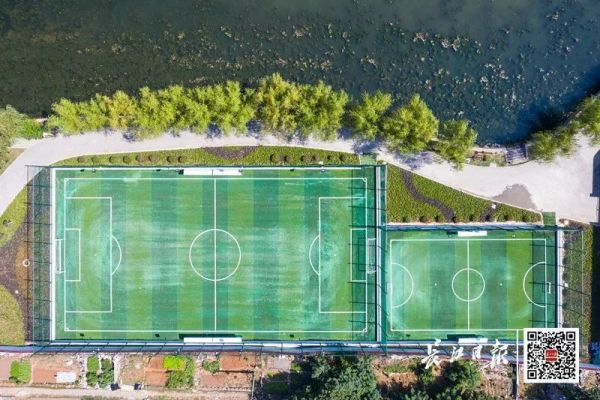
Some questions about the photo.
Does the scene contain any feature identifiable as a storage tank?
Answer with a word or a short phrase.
No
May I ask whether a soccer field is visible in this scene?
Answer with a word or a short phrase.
Yes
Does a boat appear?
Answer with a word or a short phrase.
No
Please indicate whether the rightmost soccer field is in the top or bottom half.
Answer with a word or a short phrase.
bottom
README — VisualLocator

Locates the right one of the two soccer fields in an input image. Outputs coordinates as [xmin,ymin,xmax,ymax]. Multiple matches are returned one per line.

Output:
[381,230,557,341]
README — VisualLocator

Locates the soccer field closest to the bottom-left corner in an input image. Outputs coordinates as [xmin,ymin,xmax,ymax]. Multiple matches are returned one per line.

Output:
[55,165,377,341]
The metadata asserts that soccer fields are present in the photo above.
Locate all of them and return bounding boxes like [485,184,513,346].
[381,230,557,341]
[55,165,377,341]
